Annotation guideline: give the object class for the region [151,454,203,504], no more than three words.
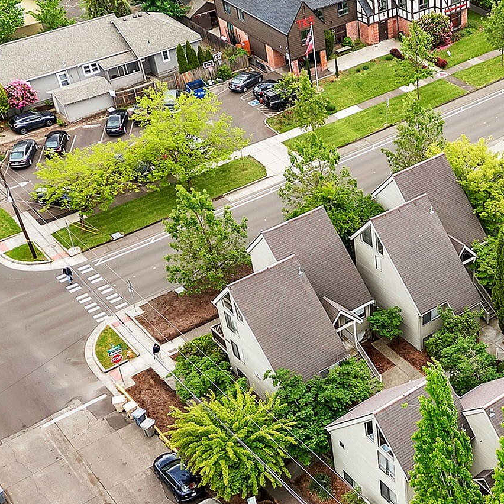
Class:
car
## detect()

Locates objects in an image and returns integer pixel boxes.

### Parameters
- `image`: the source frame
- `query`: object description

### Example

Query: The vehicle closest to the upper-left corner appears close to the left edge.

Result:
[7,110,56,135]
